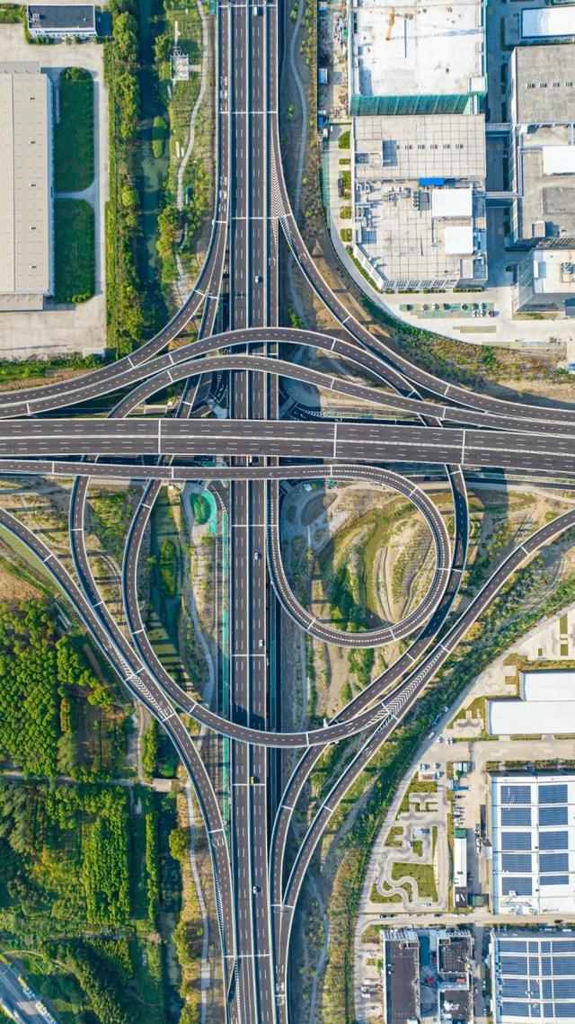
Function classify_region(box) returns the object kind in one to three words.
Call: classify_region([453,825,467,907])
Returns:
building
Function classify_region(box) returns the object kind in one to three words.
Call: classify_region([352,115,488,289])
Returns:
building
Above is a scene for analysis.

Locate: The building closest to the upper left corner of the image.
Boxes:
[27,4,98,38]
